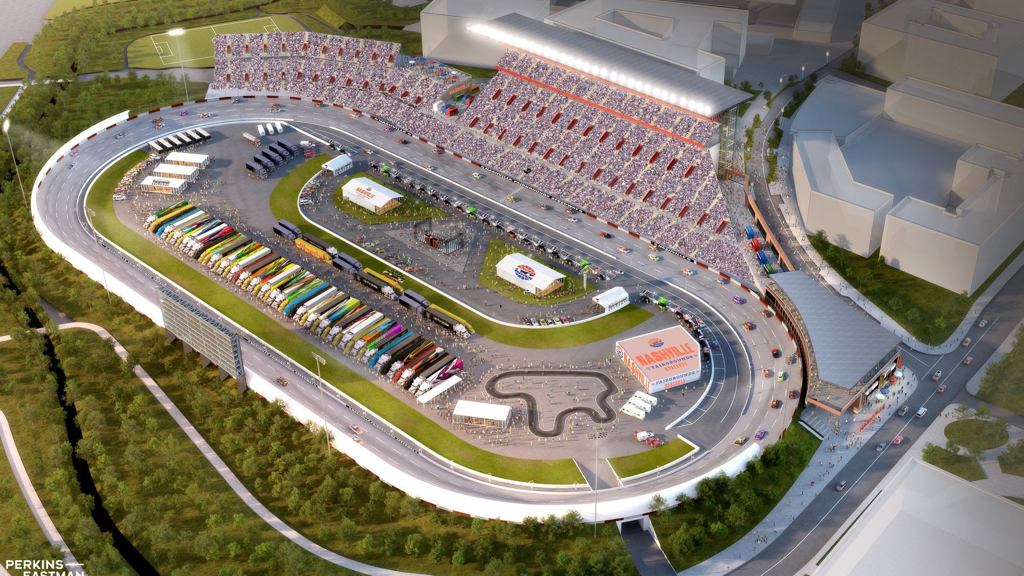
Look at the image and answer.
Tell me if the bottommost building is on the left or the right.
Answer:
right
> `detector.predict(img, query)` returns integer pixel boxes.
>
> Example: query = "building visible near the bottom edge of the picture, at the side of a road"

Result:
[808,455,1024,576]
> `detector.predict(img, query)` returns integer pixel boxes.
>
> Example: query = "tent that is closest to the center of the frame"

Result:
[494,251,566,297]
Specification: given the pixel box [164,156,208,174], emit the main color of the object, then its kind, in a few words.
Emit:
white tent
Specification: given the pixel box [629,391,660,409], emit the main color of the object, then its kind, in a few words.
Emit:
white camper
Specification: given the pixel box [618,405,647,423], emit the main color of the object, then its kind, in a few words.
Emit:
white camper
